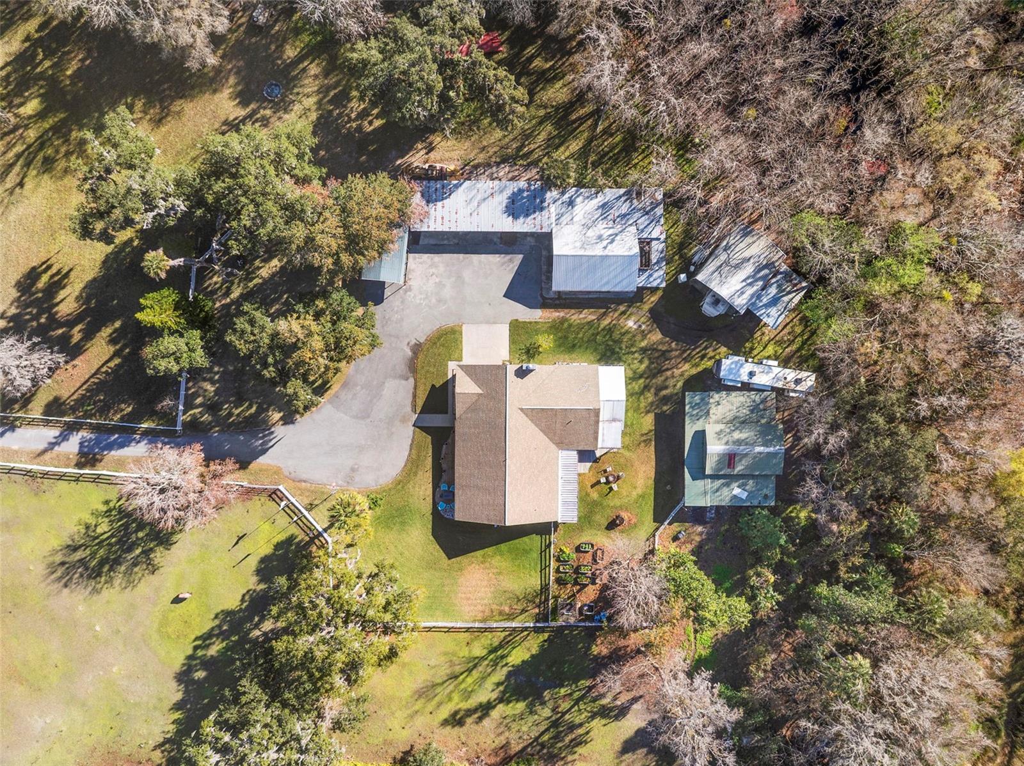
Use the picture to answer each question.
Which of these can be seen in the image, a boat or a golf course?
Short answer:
boat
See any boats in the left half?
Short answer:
No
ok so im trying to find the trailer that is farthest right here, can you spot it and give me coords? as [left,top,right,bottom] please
[702,356,819,397]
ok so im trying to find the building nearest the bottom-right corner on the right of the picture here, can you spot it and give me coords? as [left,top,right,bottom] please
[680,391,787,507]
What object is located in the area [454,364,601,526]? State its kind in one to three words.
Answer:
house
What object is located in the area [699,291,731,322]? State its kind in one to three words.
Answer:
boat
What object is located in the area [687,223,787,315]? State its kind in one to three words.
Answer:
shed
